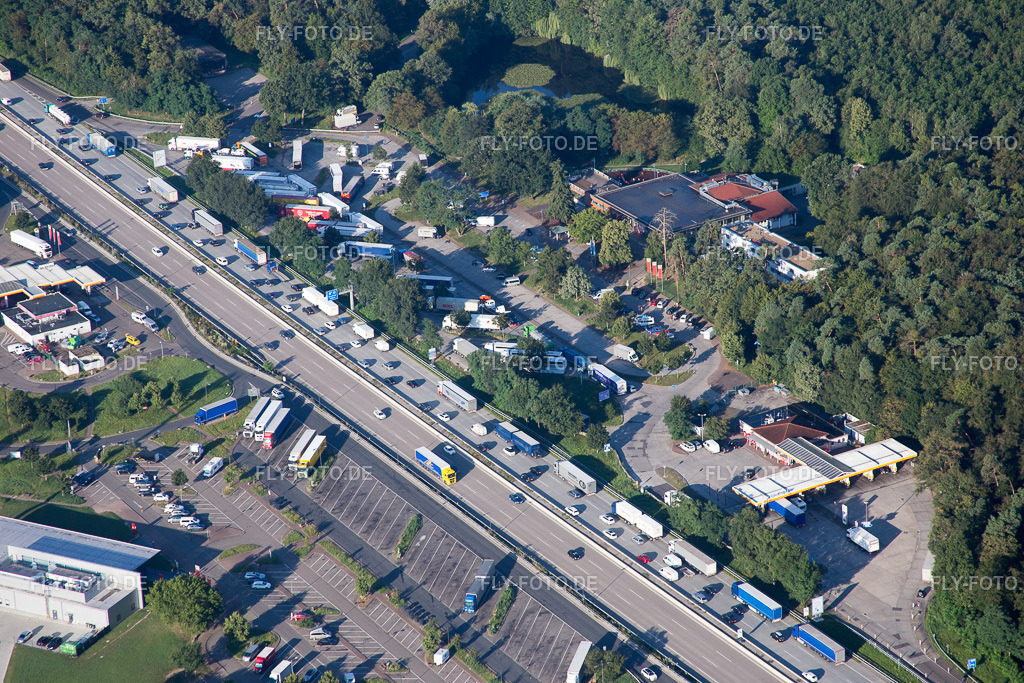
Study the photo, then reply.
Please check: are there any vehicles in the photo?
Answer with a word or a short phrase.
Yes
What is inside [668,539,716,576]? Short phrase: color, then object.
white truck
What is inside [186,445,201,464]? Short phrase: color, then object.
white vehicle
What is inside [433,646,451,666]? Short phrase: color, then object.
white camper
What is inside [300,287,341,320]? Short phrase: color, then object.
white truck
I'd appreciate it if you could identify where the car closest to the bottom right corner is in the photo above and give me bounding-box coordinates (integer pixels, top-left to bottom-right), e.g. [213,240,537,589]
[915,587,927,599]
